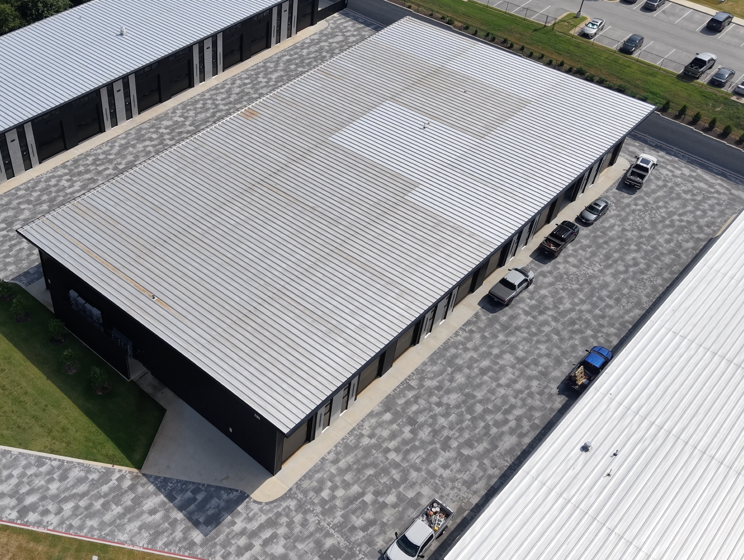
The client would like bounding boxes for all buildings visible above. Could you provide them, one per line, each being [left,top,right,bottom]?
[0,0,320,184]
[15,17,657,477]
[432,207,744,560]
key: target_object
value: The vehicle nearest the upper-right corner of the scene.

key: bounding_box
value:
[705,10,734,32]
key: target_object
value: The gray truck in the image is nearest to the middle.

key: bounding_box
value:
[485,263,543,313]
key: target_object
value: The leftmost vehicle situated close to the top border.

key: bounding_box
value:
[579,18,605,36]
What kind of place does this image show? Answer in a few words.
industrial area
